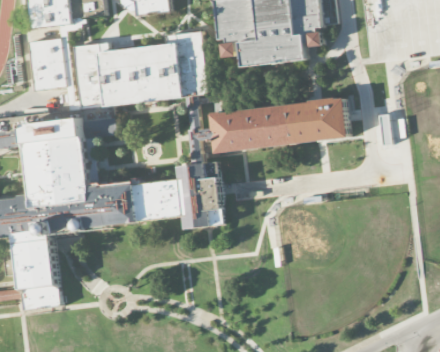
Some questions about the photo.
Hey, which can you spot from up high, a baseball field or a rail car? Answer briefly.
baseball field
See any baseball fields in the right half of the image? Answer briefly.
Yes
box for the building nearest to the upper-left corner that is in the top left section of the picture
[30,0,76,28]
